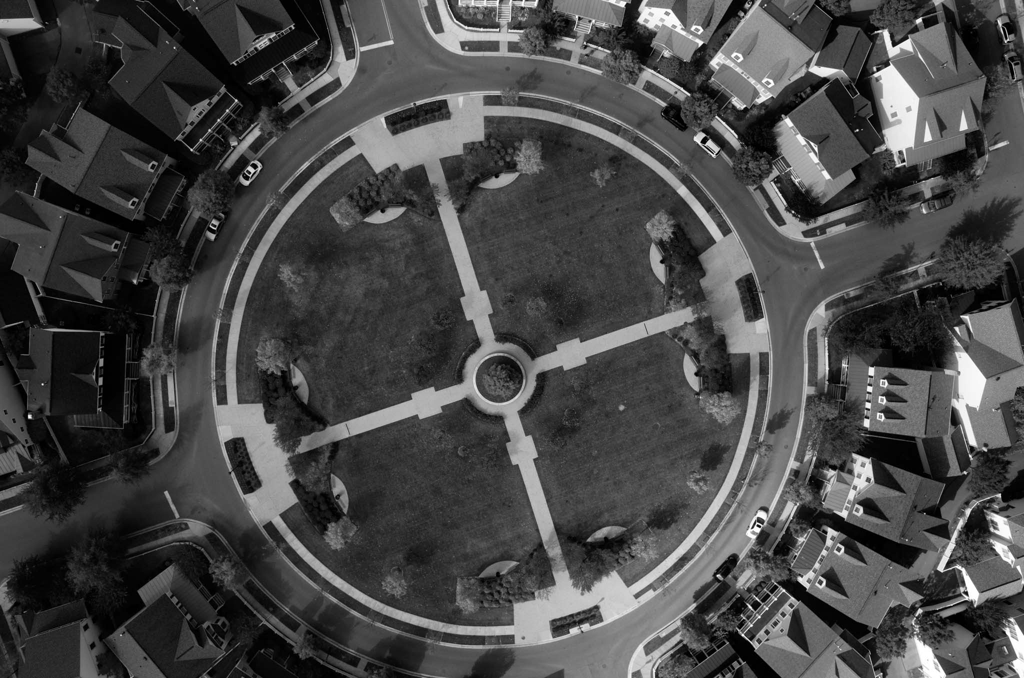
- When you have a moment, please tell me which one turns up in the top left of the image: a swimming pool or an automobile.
automobile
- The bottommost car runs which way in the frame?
diagonally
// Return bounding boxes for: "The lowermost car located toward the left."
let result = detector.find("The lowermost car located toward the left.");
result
[202,210,229,243]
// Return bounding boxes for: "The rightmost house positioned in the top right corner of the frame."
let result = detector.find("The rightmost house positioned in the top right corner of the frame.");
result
[870,7,1001,174]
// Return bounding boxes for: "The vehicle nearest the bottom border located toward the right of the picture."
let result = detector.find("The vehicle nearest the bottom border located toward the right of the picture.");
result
[712,551,739,583]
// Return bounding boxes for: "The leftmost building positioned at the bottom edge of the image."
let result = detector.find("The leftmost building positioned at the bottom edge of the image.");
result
[25,595,115,678]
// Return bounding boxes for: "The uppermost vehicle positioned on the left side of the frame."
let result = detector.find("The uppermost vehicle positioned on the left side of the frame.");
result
[237,155,266,190]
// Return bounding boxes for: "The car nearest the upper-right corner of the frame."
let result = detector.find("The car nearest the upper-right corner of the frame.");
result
[994,12,1019,45]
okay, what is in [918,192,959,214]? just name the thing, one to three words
truck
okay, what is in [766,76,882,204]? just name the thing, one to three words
house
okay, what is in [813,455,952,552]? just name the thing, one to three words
house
